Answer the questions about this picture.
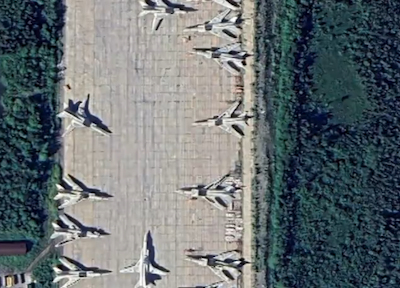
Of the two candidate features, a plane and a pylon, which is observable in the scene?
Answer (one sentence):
Looking from above, you can make out a plane.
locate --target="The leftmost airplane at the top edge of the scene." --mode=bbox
[140,0,193,31]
